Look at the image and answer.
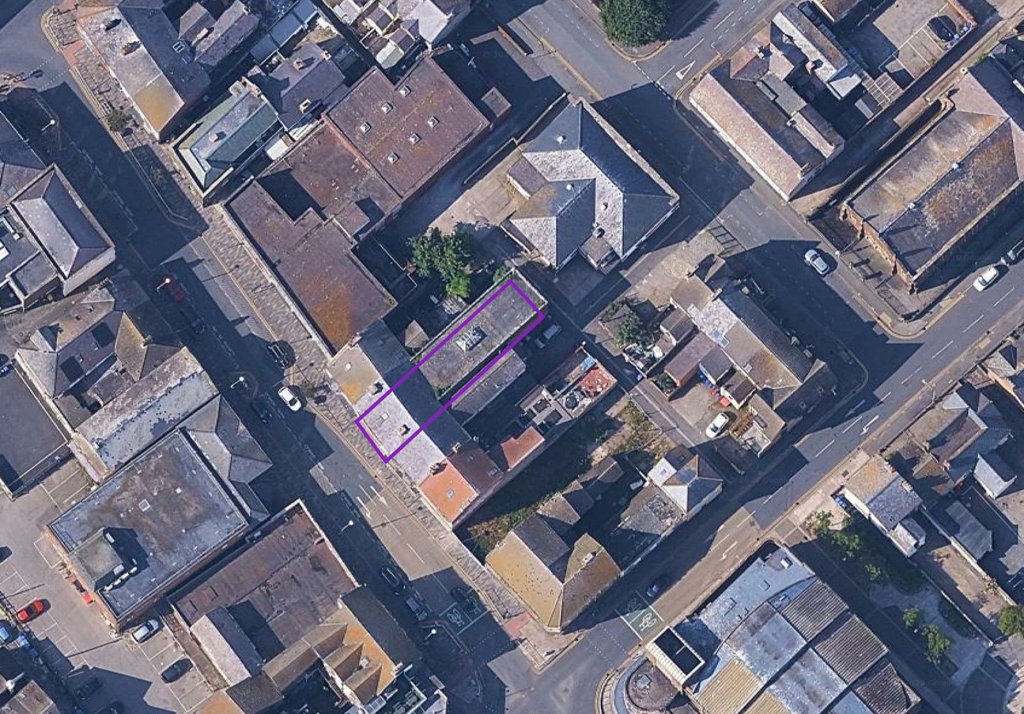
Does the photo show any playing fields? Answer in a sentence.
No, no playing field can be seen from above.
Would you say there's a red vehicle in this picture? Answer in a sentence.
Yes, this view includes a red vehicle.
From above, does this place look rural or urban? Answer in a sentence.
This place is urban.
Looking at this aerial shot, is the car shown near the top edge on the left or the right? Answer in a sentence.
The car shown near the top edge sits on the right side.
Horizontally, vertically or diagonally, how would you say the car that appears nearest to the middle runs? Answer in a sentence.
I'd say the car that appears nearest to the middle is aligned diagonally in the picture.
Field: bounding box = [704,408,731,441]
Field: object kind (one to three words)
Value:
car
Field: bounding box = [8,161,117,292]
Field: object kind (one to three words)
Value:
building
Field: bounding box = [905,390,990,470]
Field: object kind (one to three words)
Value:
house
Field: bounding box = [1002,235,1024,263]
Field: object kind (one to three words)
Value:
car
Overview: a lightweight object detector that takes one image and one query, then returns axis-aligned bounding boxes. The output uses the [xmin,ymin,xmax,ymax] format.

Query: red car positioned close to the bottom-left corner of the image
[15,597,46,623]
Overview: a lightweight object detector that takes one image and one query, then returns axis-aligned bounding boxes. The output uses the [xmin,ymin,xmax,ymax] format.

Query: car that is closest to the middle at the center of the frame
[531,319,564,351]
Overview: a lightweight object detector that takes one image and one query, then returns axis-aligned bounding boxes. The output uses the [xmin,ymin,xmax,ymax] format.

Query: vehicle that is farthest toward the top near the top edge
[929,13,957,46]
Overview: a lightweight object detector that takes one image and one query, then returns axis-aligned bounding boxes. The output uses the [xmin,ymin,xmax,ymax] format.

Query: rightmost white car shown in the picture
[974,264,1004,292]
